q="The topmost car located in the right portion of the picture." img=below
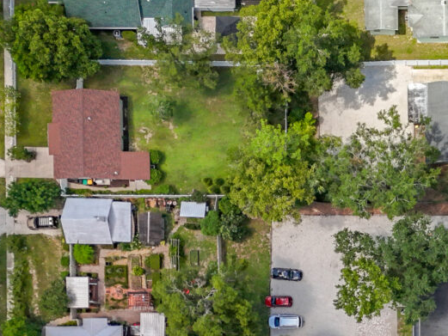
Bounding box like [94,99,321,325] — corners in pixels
[272,267,303,282]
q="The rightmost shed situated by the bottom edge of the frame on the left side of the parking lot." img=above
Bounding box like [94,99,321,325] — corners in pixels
[140,313,171,336]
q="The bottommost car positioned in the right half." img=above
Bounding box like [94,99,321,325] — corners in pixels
[269,314,302,329]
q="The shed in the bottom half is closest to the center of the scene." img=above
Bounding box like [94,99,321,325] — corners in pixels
[179,201,212,219]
